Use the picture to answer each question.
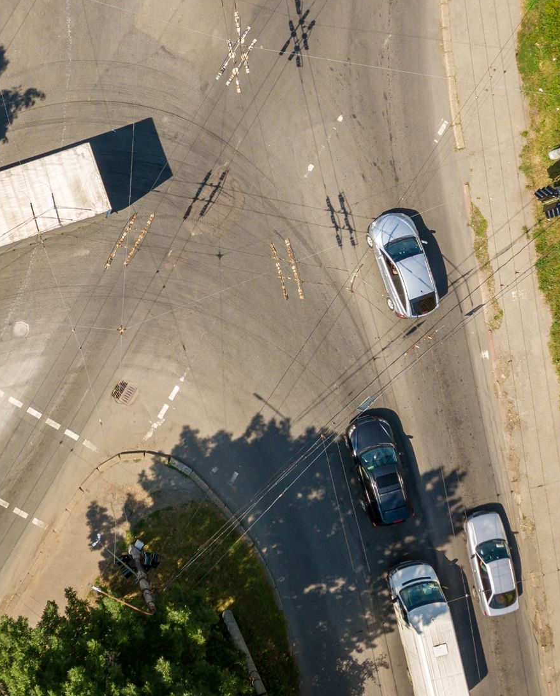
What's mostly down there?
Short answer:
paved ground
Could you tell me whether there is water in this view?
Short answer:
No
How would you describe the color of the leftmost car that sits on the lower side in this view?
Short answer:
black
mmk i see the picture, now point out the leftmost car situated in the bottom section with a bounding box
[348,413,415,524]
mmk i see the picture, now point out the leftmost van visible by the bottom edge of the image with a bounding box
[389,561,473,696]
